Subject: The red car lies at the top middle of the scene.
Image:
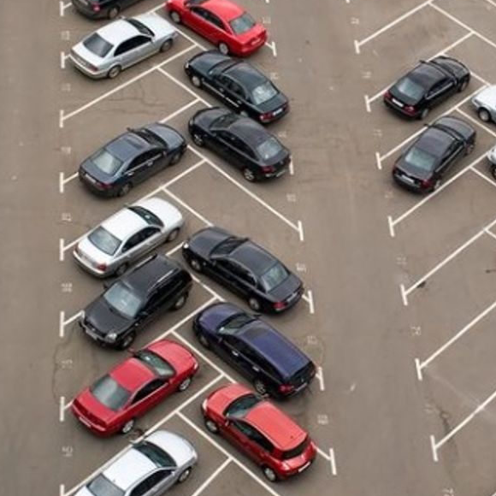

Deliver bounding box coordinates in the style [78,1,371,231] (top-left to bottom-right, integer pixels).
[167,0,267,59]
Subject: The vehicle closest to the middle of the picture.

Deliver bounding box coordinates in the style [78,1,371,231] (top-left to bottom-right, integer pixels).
[185,227,305,319]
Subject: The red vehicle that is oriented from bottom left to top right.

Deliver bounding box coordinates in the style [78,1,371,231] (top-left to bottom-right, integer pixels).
[76,343,200,439]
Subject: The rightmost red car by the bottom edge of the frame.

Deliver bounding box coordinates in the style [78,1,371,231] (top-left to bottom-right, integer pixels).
[200,384,320,484]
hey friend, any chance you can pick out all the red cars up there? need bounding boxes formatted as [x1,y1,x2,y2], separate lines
[167,0,267,59]
[76,343,200,439]
[200,384,320,484]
